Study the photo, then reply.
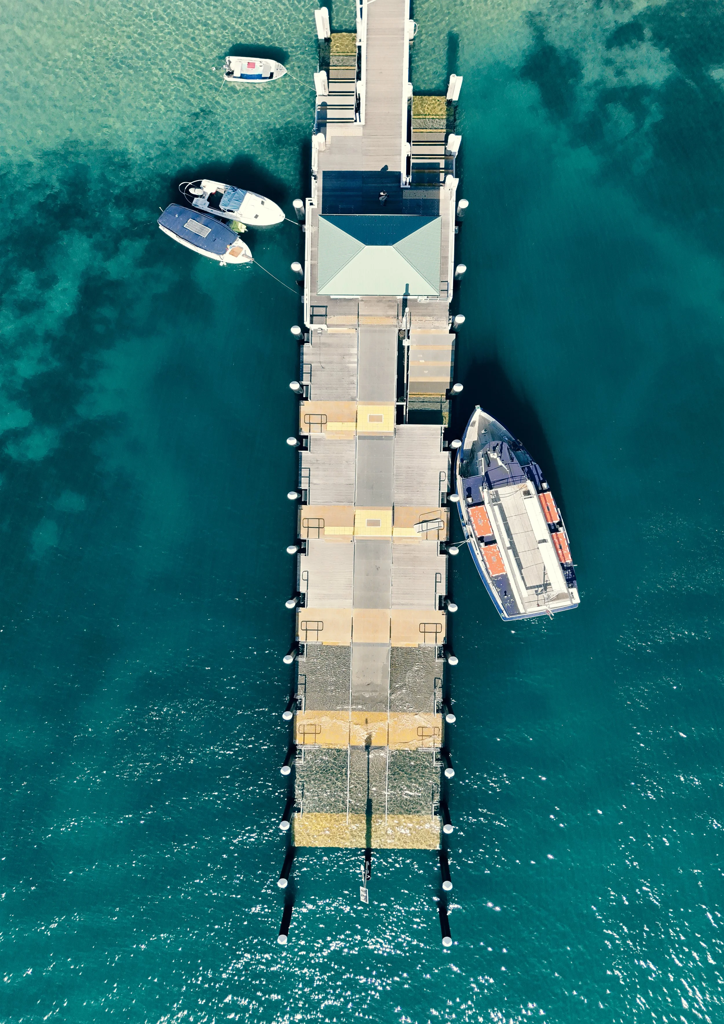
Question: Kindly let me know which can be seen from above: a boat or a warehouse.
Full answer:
Of the two, only a boat appears.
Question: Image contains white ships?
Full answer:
Yes, a white ship appears in the view.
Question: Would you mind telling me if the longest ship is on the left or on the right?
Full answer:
The longest ship is on the right side of the image.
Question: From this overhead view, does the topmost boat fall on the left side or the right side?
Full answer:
The topmost boat sits on the left side.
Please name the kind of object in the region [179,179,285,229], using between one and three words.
boat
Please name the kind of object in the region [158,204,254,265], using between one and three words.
boat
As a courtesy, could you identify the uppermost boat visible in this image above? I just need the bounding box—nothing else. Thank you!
[213,56,286,85]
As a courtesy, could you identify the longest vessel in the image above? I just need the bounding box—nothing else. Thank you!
[454,405,580,621]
